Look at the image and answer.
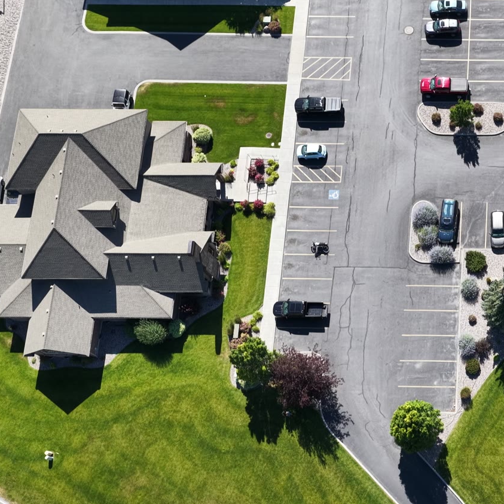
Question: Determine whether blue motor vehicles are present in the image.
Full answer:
Yes, there is a blue motor vehicle in the image.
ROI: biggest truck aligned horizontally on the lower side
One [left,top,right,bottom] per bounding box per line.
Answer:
[273,299,330,321]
